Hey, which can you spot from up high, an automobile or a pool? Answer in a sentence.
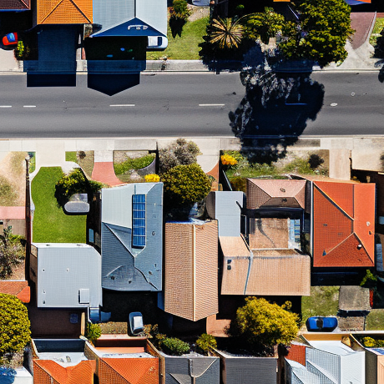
There is an automobile in the scene.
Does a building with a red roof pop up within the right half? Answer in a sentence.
Yes, the scene does show a building with a red roof within the right half.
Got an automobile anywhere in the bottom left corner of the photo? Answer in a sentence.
Yes, looking in the bottom left corner of the photo, one can make out an automobile.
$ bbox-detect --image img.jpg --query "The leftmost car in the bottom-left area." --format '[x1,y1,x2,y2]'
[95,300,113,326]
